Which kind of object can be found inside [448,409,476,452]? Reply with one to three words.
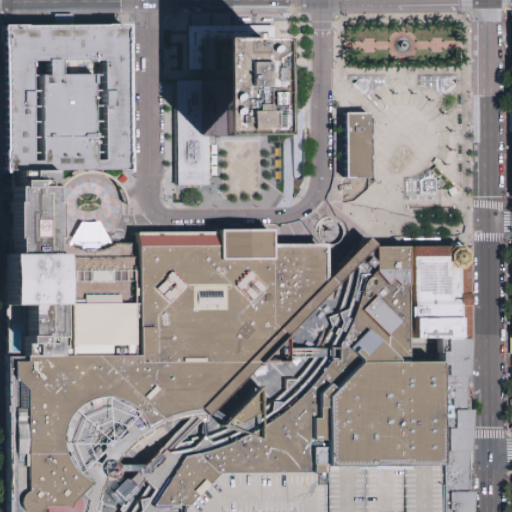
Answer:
building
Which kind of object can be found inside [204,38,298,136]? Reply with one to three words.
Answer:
building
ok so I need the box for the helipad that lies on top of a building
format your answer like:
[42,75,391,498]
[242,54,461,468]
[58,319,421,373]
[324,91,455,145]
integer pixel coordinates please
[40,220,53,238]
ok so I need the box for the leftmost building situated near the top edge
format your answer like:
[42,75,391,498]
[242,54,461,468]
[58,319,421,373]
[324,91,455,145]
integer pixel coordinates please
[3,23,134,171]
